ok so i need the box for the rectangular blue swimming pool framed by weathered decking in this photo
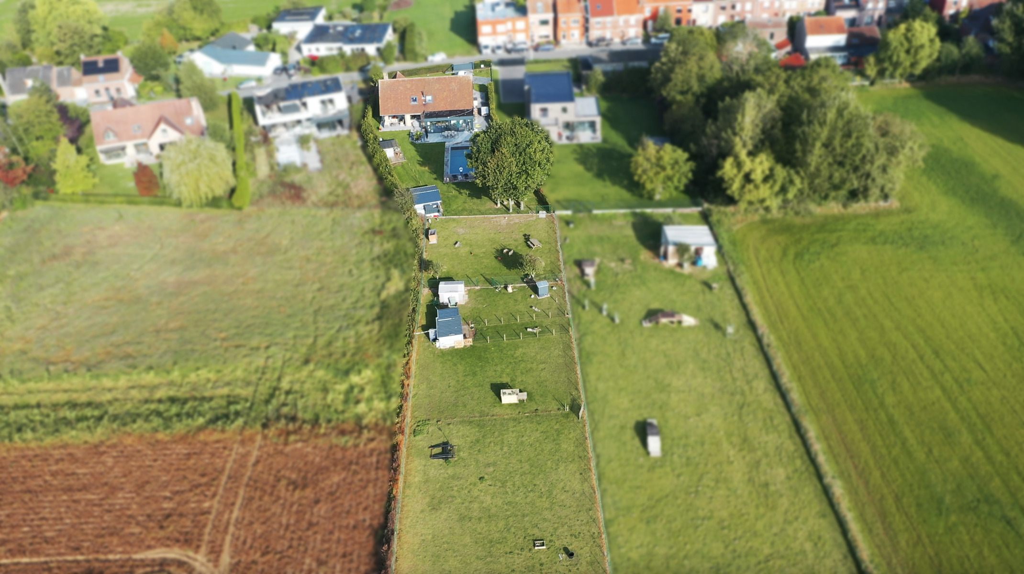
[440,141,473,181]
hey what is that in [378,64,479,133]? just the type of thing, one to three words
house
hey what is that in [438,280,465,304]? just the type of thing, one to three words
shed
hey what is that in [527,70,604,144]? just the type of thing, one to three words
house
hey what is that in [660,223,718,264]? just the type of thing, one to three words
building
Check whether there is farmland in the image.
Yes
